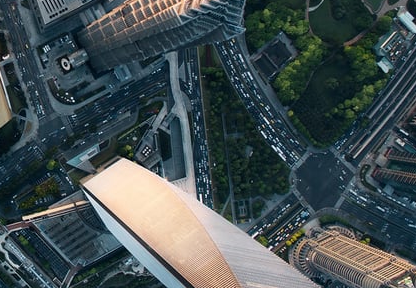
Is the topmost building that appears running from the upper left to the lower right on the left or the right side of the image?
right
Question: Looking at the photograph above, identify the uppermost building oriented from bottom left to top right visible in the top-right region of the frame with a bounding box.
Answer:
[372,31,399,58]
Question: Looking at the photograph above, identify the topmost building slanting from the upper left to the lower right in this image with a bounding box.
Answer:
[392,11,416,34]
